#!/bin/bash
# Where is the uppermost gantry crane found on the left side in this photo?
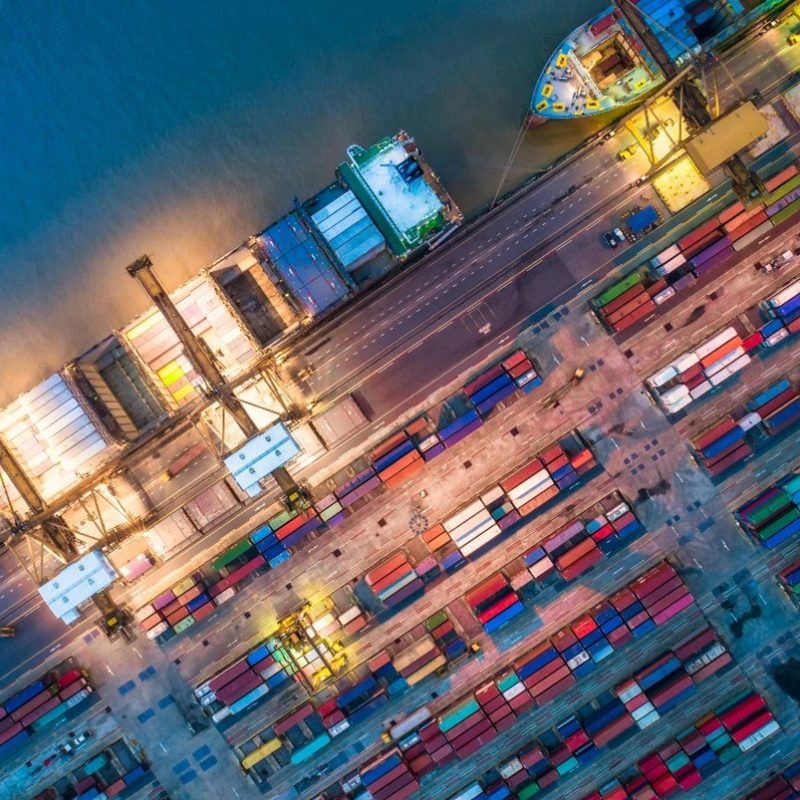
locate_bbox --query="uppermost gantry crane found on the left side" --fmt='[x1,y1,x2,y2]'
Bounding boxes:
[119,249,312,515]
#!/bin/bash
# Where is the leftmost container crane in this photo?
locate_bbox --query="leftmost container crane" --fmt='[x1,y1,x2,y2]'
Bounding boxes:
[0,434,154,637]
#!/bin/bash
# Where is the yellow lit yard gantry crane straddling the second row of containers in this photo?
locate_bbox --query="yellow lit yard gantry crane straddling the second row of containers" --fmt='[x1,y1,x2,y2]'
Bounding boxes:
[280,599,353,689]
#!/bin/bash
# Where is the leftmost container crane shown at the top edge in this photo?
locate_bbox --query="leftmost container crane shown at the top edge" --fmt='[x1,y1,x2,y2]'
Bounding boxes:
[598,0,773,205]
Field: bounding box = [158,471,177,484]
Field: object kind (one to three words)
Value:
vehicle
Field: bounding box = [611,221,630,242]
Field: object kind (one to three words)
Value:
vehicle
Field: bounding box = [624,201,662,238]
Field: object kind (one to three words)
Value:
trailer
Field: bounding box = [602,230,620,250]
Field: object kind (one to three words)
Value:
car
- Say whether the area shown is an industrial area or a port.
port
